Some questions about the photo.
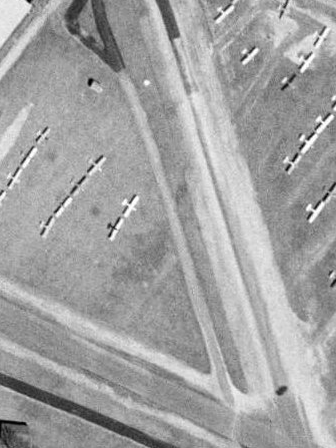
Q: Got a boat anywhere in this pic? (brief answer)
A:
No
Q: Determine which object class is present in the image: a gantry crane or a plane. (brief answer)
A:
plane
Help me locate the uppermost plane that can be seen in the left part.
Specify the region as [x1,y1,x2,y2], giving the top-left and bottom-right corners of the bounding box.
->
[33,129,49,145]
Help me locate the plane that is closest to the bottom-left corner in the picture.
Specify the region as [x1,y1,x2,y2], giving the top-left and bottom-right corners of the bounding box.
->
[39,218,55,237]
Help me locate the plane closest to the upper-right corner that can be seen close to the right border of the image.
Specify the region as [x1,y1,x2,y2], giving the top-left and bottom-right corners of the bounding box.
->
[312,28,329,48]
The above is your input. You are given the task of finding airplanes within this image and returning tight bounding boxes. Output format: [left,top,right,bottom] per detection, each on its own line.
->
[19,148,37,168]
[121,197,139,216]
[285,156,302,174]
[33,129,49,145]
[0,192,6,205]
[299,134,318,153]
[52,197,72,216]
[321,184,336,204]
[274,0,291,21]
[242,48,259,64]
[5,170,22,188]
[312,28,329,48]
[297,53,316,73]
[282,76,298,93]
[316,114,334,133]
[70,177,88,196]
[306,204,324,222]
[105,218,123,240]
[215,5,234,23]
[88,156,106,174]
[39,218,55,237]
